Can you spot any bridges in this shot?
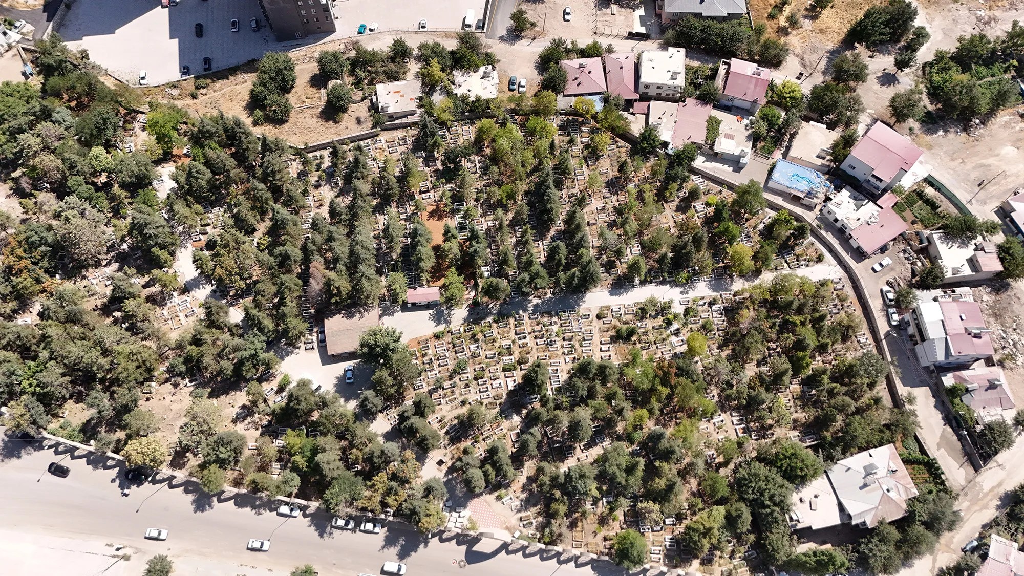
No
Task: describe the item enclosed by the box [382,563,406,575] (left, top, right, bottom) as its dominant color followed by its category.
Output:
white vehicle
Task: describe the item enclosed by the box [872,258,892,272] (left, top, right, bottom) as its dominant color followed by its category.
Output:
white car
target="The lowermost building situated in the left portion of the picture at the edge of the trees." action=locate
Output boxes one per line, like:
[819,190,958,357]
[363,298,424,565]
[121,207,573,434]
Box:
[324,306,380,357]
